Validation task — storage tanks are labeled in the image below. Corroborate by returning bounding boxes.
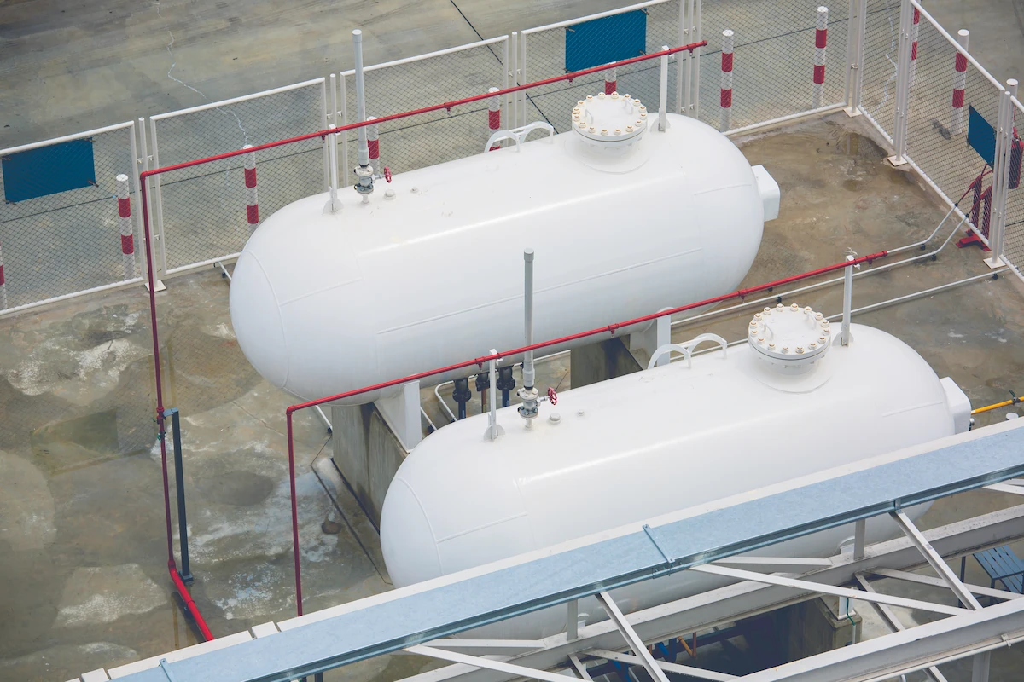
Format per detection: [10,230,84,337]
[230,30,781,451]
[379,248,971,682]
